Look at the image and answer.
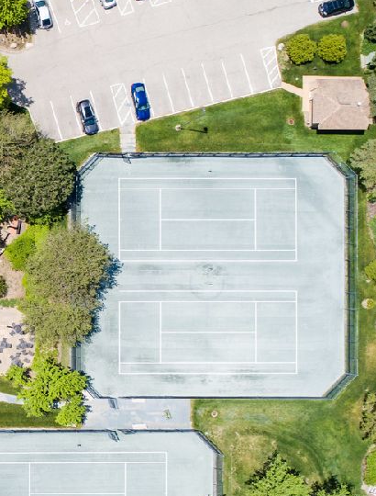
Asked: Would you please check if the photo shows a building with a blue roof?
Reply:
No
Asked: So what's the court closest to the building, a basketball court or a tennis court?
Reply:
tennis court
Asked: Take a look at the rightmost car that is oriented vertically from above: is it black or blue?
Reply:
blue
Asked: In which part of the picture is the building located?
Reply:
top right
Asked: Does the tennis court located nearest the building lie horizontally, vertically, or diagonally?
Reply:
horizontally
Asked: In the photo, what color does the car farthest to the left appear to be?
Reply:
white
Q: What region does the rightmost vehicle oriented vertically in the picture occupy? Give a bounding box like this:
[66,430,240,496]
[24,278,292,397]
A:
[132,81,153,119]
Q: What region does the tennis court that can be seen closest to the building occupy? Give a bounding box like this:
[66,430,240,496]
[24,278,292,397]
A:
[118,178,298,261]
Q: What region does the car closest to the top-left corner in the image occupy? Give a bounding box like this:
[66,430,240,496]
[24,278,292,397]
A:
[34,0,57,29]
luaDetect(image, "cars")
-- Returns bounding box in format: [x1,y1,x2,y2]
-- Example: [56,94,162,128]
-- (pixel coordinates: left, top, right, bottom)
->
[132,81,153,119]
[77,97,99,134]
[34,0,57,29]
[101,0,117,9]
[319,0,360,15]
